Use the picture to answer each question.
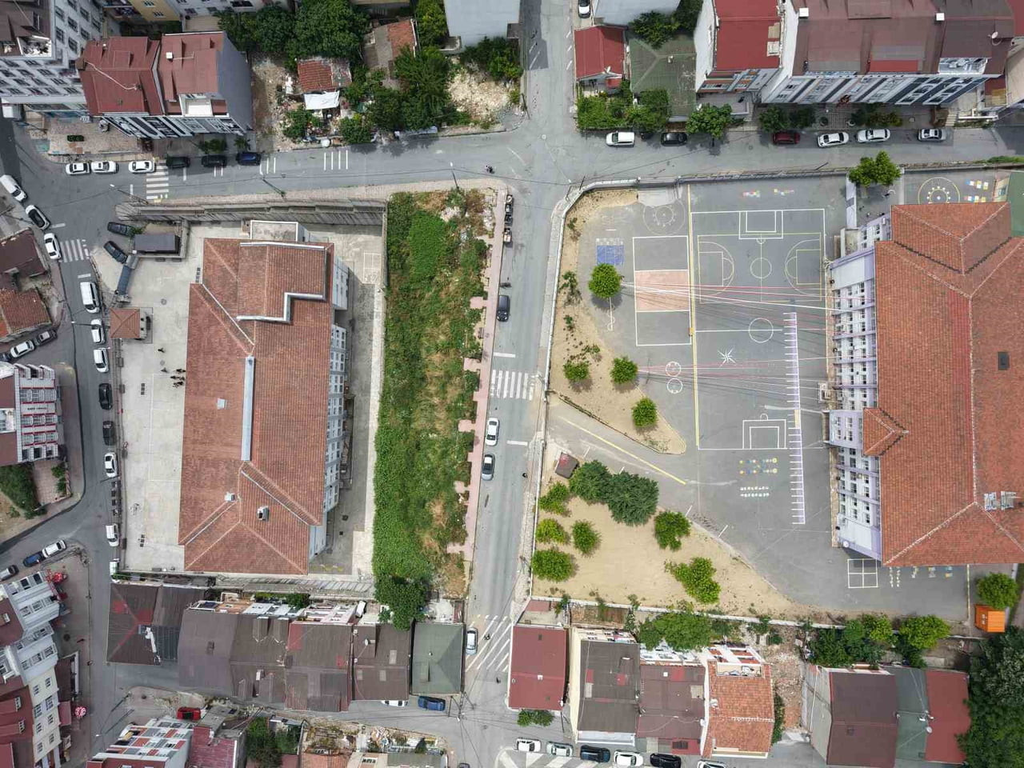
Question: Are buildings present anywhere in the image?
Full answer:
Yes, the image includes a building.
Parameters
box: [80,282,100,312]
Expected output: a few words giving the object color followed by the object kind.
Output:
white vehicle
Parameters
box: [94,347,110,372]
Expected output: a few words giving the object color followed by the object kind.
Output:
white car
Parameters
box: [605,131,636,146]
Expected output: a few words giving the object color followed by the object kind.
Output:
white vehicle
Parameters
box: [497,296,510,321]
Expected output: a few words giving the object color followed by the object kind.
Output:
gray vehicle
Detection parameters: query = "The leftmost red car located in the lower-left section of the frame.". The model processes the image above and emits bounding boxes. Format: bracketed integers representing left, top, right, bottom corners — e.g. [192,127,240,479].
[177,706,203,720]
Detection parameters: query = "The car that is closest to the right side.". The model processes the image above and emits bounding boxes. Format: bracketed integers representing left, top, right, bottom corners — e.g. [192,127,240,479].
[916,128,945,142]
